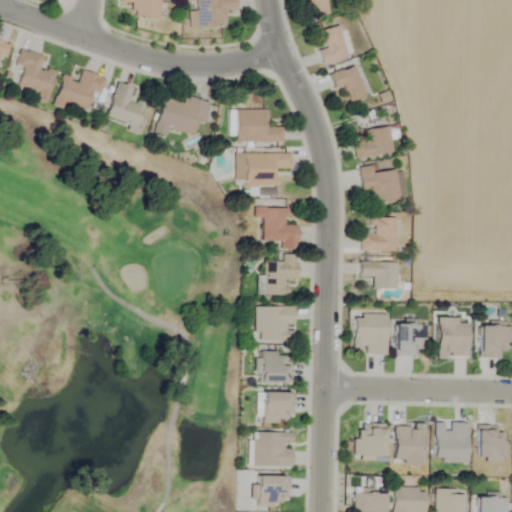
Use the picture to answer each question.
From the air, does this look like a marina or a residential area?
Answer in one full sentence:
The area seen from above is a residential area.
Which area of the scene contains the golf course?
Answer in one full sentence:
The golf course is located in the left region of the scene.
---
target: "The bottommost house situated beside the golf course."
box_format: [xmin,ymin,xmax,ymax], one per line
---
[252,476,291,507]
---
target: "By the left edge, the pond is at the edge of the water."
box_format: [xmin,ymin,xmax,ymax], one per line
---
[2,331,167,512]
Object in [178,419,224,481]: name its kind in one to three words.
pond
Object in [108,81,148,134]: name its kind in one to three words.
house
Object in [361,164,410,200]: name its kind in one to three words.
house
